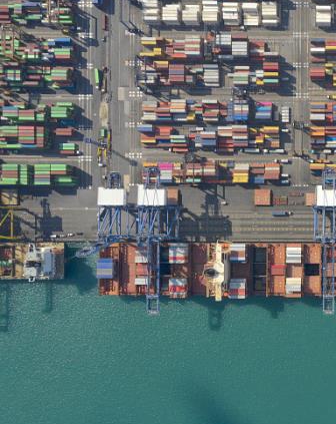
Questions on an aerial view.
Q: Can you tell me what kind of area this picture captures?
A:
port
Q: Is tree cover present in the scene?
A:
No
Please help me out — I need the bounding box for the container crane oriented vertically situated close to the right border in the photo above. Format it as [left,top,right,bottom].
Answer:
[313,169,336,313]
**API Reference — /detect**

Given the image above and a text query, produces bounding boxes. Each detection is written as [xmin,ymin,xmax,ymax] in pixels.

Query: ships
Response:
[98,237,336,302]
[0,242,70,282]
